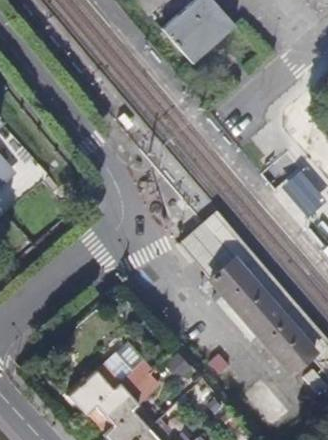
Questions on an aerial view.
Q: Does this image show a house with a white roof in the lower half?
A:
Yes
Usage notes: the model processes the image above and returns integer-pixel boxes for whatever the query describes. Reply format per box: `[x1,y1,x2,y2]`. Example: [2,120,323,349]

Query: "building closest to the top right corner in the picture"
[162,0,236,65]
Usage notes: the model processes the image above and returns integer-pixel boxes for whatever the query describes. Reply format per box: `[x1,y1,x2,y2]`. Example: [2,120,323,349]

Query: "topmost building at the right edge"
[284,170,326,217]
